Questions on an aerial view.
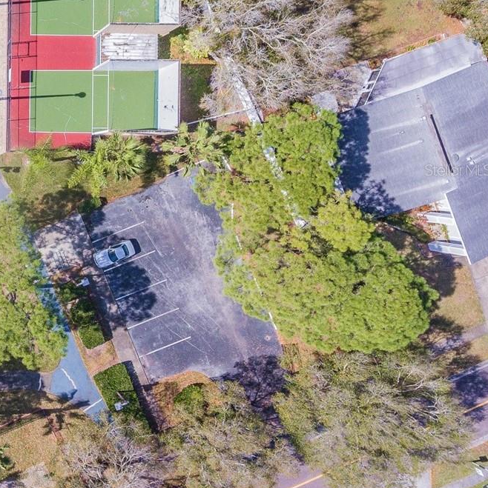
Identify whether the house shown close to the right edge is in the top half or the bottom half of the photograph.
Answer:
top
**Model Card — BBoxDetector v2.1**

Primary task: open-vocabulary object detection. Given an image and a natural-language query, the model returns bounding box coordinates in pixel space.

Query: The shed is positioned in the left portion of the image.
[96,34,168,67]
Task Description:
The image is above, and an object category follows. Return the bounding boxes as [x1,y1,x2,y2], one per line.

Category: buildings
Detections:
[96,34,168,67]
[337,35,488,264]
